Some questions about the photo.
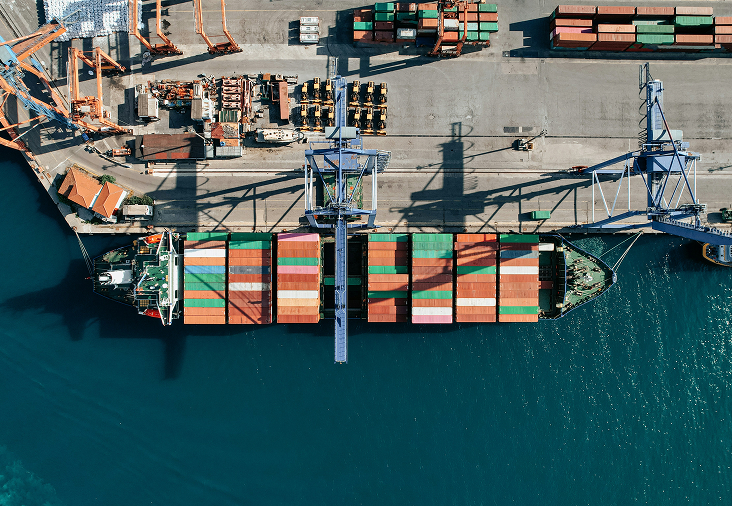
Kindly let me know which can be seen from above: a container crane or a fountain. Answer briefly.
container crane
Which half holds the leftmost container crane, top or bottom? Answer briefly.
top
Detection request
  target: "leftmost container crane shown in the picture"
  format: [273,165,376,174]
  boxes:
[0,0,75,158]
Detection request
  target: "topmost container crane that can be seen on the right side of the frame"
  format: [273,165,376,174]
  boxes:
[426,0,468,56]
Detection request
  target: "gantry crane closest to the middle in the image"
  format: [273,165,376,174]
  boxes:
[303,59,387,367]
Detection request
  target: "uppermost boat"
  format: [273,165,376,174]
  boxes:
[257,127,302,143]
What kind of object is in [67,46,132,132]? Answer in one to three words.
container crane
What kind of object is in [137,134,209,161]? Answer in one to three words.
building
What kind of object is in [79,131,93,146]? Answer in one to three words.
vehicle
